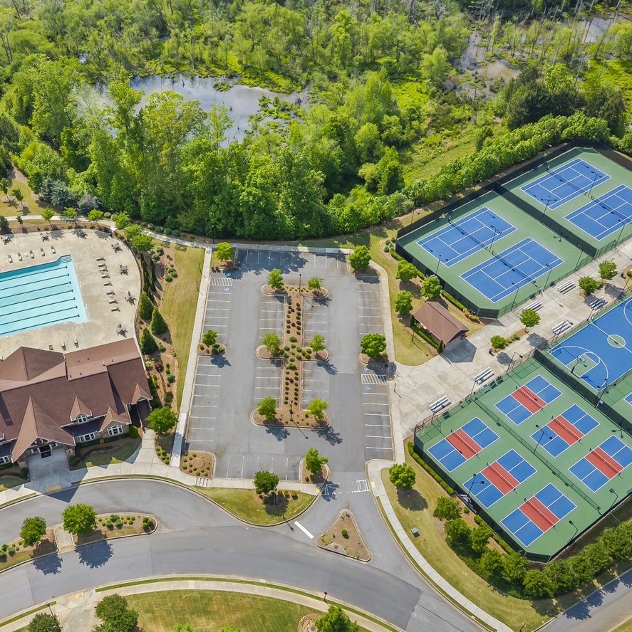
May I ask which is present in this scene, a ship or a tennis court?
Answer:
tennis court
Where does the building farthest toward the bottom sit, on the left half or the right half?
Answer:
left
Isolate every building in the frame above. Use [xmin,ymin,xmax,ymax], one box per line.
[414,302,470,352]
[0,338,154,472]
